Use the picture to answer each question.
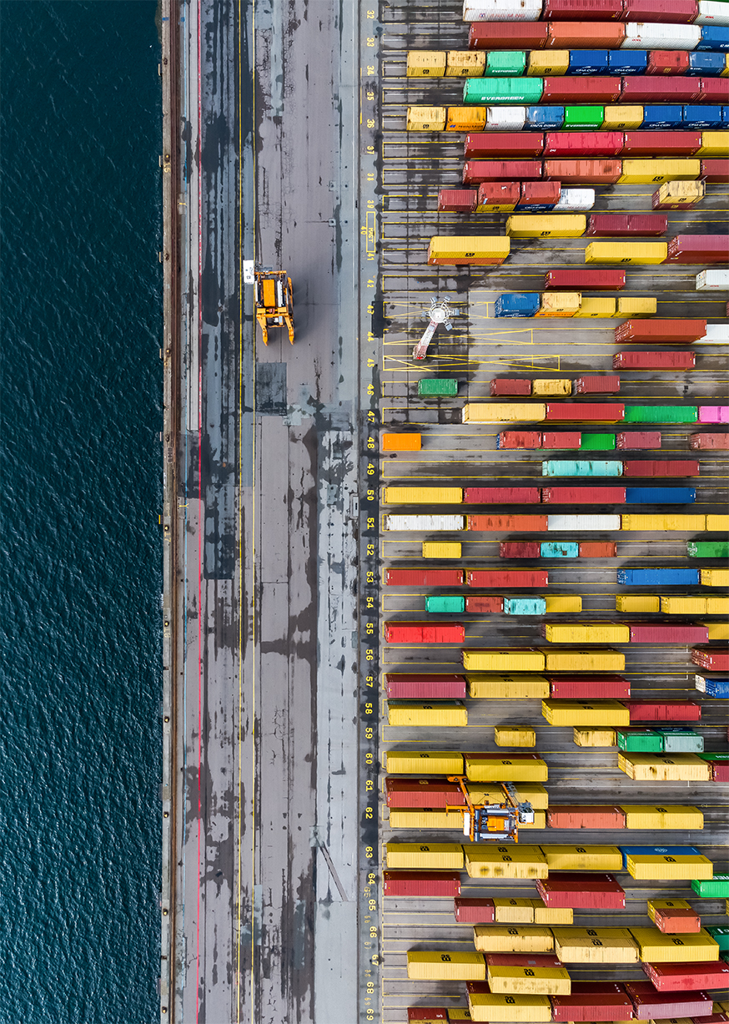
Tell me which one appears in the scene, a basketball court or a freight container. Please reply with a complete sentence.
I can see a freight container in this picture.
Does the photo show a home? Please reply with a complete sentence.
No, there appears to be no home in this shot.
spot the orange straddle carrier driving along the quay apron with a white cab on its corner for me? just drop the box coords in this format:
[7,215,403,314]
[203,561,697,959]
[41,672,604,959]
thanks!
[241,259,296,347]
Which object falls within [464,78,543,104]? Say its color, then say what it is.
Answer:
green shipping container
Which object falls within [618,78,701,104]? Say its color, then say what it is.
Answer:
red shipping container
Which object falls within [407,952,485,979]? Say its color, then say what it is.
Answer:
yellow shipping container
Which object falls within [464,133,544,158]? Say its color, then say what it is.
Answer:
red shipping container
